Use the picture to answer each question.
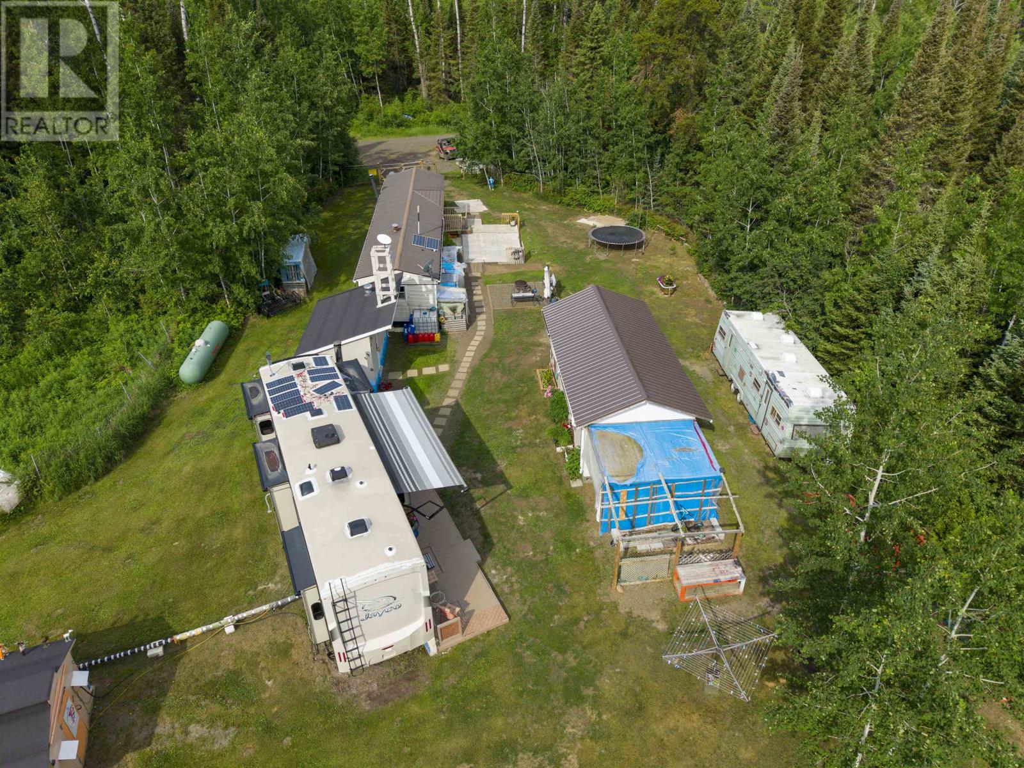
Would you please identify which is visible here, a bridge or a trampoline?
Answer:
trampoline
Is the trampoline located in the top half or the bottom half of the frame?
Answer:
top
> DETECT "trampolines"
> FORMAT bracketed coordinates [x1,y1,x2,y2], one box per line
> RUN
[587,227,647,264]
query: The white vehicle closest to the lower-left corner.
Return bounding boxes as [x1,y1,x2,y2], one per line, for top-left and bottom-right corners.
[240,342,469,682]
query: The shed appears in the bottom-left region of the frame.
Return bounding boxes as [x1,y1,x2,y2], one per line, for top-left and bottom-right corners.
[0,638,94,768]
